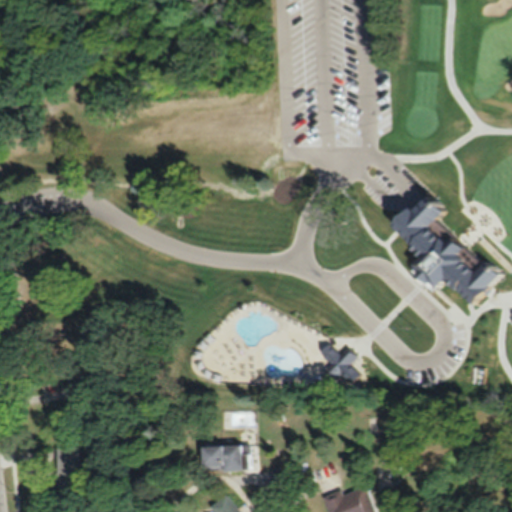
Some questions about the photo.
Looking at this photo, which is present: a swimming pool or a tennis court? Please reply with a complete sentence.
The image shows a swimming pool.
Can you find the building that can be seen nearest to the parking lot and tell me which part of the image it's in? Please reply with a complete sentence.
The building that can be seen nearest to the parking lot sits in the right section of the image.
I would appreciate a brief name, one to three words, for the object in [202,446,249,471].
house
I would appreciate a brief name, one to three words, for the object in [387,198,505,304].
building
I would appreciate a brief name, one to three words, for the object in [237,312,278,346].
swimming pool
